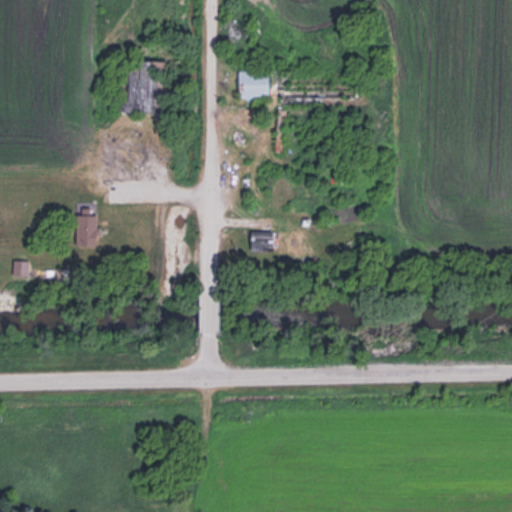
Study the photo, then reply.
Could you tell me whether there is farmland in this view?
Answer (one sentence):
Yes, farmland can be seen from above here.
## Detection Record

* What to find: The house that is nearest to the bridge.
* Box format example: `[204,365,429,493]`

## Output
[250,230,274,252]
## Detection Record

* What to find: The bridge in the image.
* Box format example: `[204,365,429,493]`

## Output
[200,290,219,337]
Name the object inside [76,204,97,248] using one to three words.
house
